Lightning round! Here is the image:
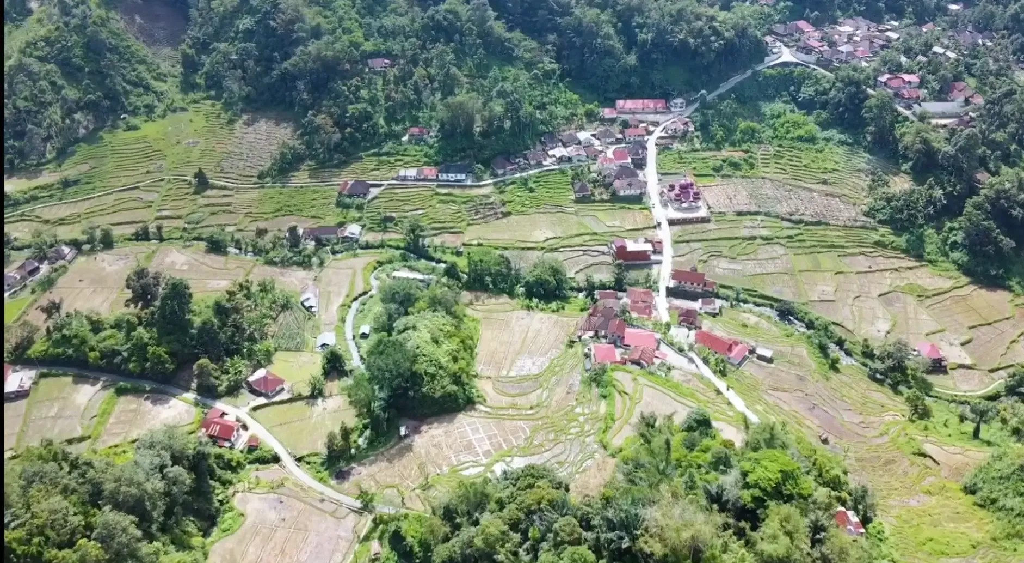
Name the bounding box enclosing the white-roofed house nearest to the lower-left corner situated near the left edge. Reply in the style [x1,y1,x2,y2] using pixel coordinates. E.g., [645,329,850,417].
[0,369,38,401]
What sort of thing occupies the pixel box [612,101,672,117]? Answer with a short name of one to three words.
building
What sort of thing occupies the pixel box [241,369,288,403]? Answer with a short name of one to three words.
house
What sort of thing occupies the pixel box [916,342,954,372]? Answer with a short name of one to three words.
house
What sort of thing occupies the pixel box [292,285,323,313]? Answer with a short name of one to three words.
barn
